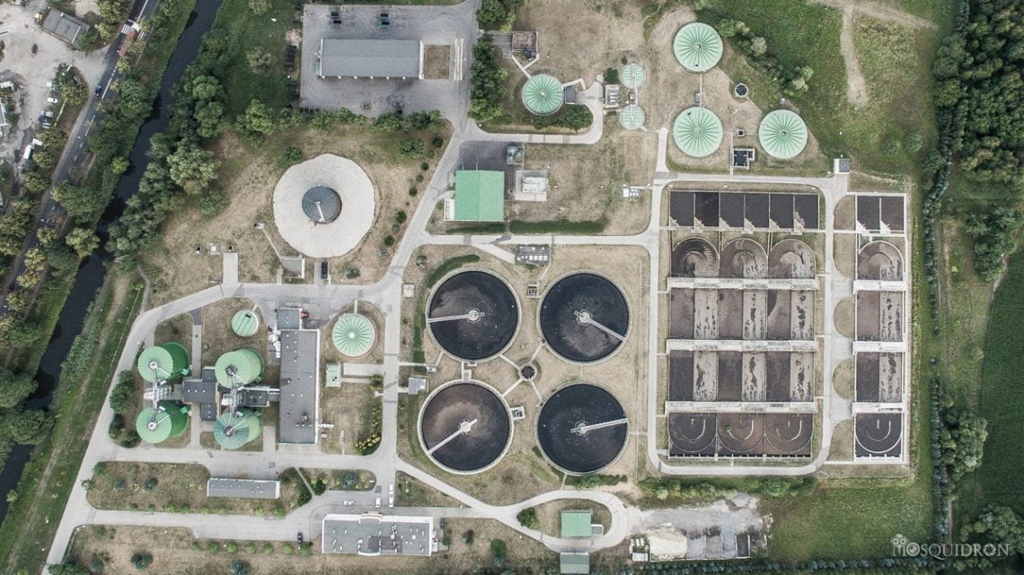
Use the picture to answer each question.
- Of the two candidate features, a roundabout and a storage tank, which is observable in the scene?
storage tank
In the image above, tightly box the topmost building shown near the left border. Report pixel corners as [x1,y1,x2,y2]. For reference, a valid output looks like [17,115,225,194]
[43,8,95,46]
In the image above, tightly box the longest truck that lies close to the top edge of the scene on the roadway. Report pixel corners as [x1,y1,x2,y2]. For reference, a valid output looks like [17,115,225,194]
[118,23,140,56]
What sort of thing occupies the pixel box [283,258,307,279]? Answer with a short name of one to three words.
building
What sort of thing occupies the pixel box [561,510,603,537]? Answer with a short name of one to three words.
shed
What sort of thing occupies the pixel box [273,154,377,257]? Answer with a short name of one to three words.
storage tank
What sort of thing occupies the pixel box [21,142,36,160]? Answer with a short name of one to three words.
vehicle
